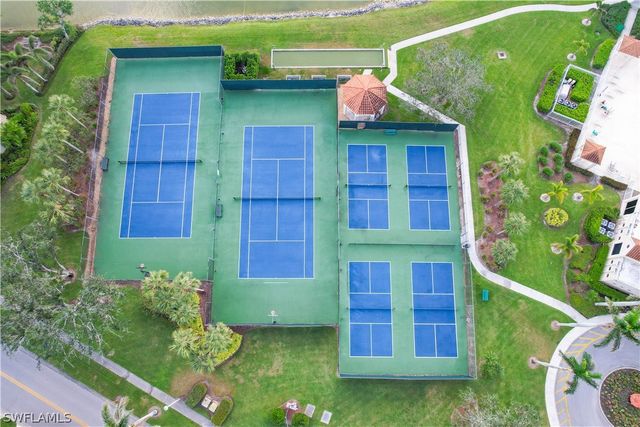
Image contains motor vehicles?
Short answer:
No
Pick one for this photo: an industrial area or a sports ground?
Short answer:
sports ground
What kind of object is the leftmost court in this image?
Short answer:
tennis court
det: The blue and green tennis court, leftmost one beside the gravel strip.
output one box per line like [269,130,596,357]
[93,56,222,281]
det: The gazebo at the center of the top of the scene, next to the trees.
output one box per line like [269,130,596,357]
[343,75,388,123]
